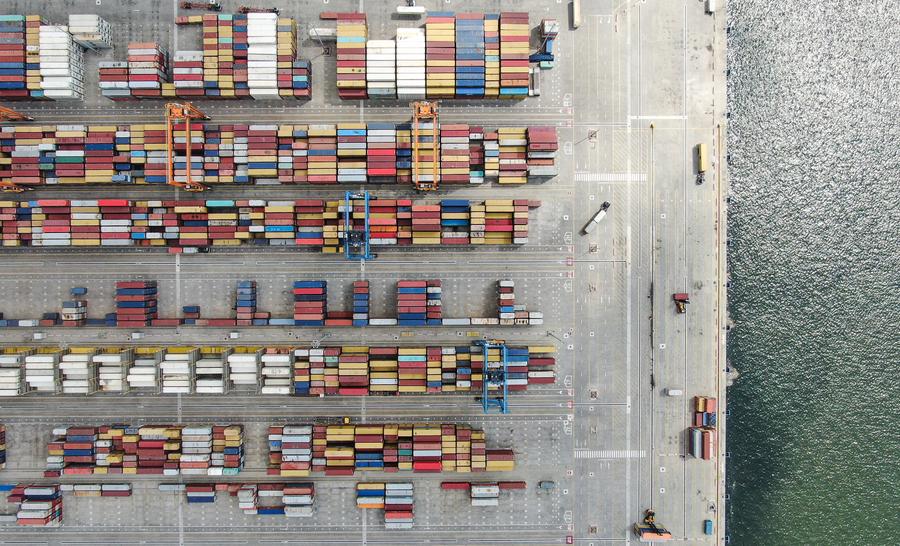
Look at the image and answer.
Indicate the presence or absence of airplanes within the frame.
No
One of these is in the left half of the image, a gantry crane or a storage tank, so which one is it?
gantry crane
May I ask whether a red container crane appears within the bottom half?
No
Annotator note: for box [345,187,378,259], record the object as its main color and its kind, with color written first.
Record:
blue container crane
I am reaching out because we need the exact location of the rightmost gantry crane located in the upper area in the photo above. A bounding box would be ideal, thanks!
[411,99,442,191]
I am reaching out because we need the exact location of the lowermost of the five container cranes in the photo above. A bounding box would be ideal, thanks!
[476,339,508,413]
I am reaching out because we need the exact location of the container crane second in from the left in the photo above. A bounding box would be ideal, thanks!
[163,100,211,192]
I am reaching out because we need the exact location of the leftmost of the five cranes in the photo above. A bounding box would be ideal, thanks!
[0,101,33,192]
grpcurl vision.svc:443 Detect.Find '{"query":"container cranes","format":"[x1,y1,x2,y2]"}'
[476,339,508,413]
[345,187,378,259]
[411,99,442,191]
[0,101,33,192]
[163,100,211,192]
